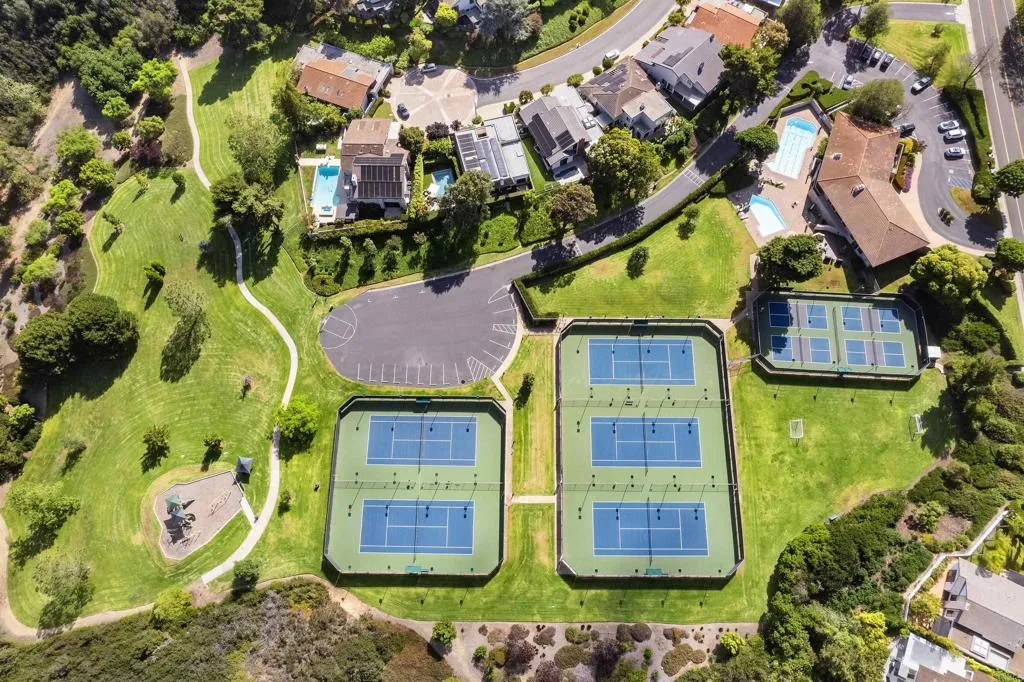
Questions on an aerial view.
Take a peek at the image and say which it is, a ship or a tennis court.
tennis court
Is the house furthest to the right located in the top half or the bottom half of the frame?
bottom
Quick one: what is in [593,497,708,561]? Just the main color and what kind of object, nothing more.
blue tennis court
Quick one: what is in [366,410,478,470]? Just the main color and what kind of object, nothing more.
blue tennis court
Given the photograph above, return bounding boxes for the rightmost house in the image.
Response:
[934,558,1024,669]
